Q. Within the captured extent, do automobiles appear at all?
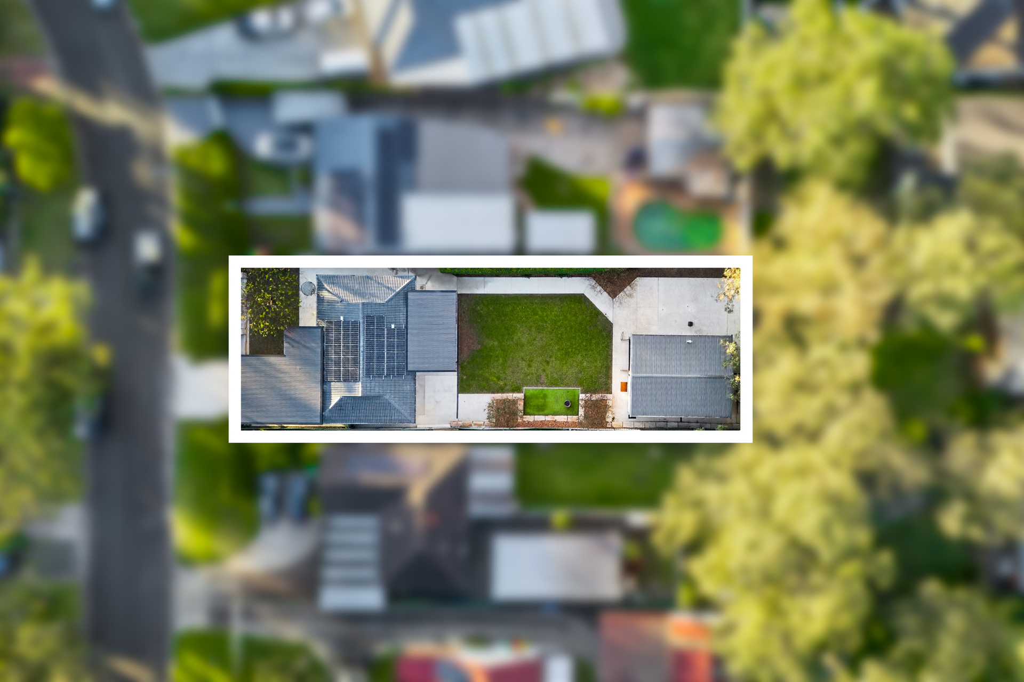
Yes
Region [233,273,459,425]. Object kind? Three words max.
house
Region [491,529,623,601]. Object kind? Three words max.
building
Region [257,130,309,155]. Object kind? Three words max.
car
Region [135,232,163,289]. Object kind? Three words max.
truck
